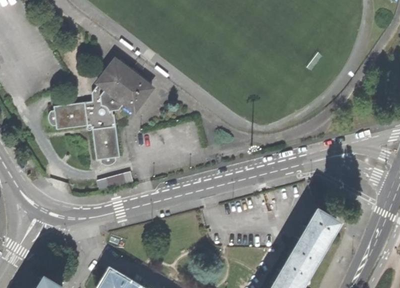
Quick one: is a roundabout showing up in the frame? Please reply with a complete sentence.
No, the frame has no roundabout in it.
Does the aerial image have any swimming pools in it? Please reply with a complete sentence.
No, the photo shows no swimming pool.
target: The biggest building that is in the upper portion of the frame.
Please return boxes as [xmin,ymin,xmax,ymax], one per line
[48,58,155,166]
